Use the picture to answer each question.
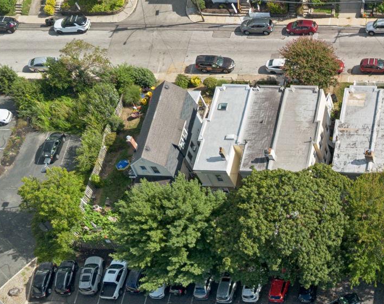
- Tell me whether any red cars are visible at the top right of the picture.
Yes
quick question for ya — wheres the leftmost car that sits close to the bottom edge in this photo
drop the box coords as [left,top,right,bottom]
[32,261,58,299]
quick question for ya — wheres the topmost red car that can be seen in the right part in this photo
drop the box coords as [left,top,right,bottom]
[286,20,318,37]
